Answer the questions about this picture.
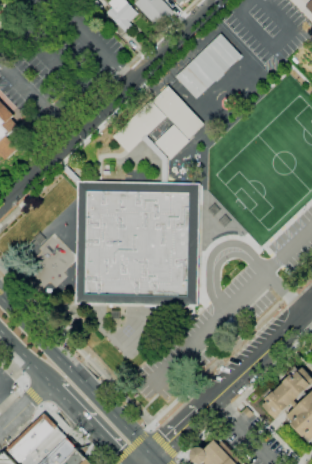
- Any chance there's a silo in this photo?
No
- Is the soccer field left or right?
right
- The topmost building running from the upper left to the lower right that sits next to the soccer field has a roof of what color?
white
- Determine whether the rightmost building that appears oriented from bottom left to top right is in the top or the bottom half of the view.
bottom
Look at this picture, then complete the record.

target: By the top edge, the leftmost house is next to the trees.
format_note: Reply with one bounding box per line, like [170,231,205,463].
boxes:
[108,0,139,32]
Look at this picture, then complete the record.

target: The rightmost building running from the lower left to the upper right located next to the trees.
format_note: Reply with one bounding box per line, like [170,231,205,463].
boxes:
[264,368,312,418]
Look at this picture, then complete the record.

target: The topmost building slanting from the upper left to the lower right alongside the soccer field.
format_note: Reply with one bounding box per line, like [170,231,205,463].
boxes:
[154,86,204,140]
